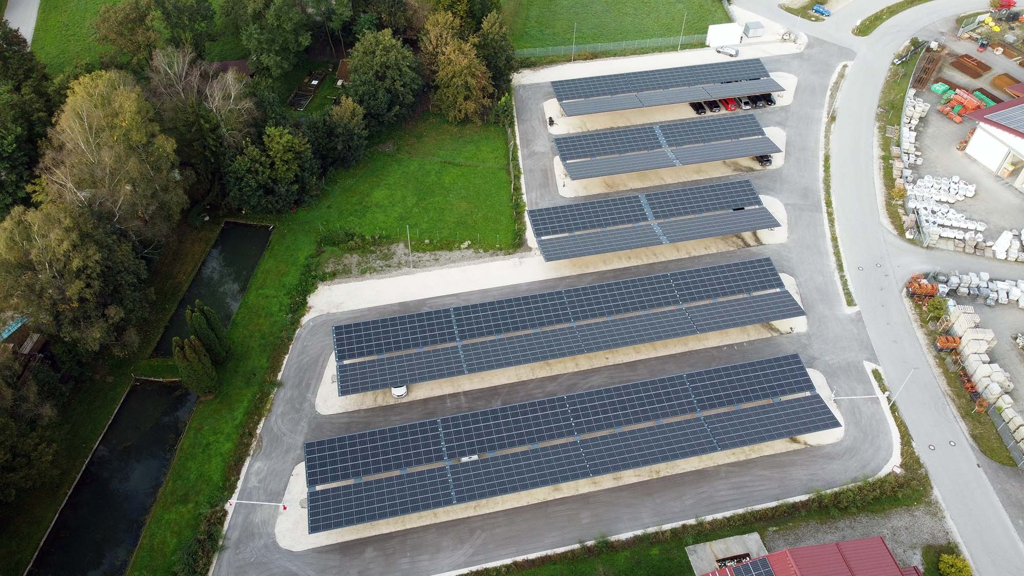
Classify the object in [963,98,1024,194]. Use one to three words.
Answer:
building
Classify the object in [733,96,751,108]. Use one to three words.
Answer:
vehicle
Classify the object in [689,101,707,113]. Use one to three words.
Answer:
vehicle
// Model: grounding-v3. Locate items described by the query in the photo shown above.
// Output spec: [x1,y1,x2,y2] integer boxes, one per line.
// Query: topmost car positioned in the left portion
[389,386,406,401]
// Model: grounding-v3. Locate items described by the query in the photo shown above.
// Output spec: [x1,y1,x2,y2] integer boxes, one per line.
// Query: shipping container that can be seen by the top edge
[704,21,744,46]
